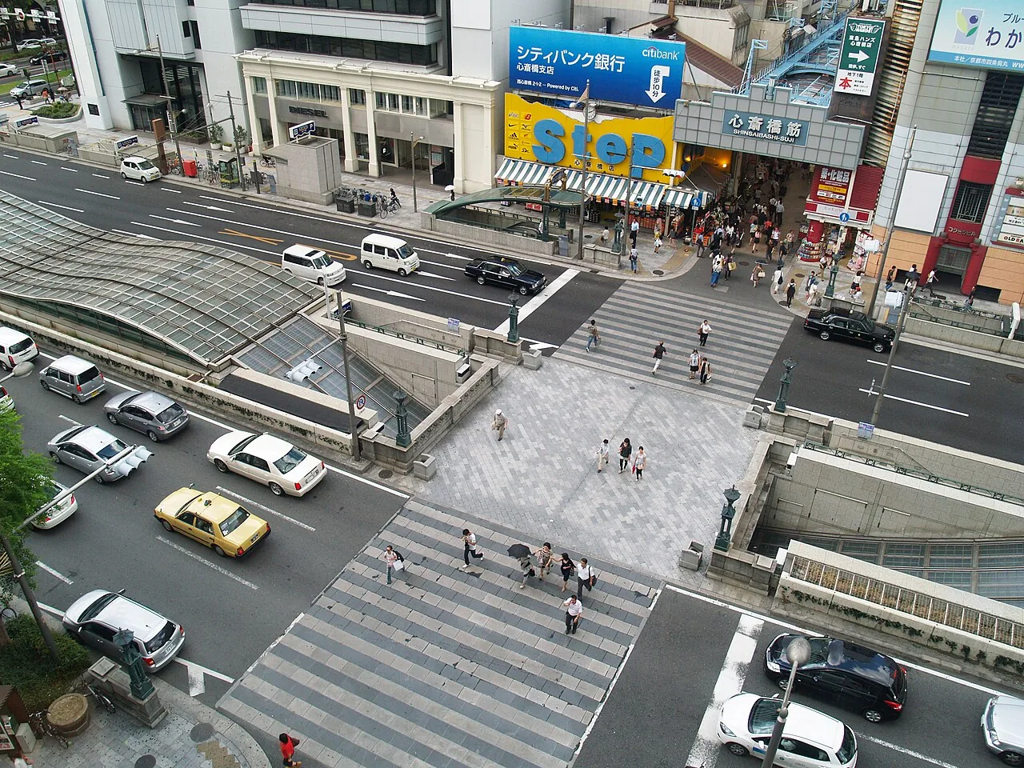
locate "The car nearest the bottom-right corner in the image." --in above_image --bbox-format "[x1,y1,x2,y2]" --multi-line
[976,695,1024,765]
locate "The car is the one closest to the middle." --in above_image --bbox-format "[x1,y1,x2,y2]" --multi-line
[469,254,552,295]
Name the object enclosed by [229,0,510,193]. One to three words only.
building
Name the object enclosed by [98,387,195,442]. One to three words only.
car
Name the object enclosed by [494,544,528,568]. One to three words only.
umbrella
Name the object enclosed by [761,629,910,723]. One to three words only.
car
